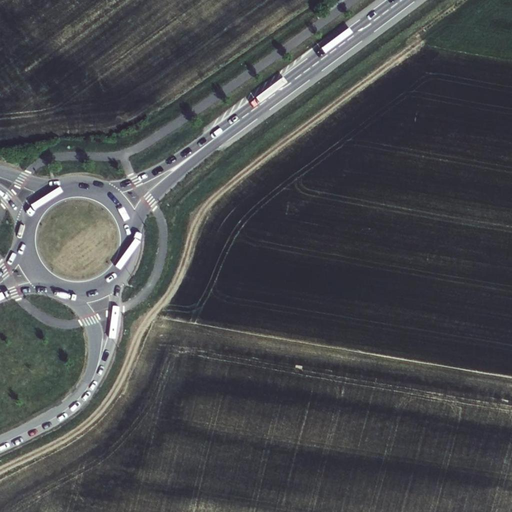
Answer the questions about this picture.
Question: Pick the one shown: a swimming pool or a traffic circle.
traffic circle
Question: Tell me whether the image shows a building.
No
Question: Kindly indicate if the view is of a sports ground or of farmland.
farmland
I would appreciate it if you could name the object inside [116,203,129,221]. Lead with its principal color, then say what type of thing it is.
white vehicle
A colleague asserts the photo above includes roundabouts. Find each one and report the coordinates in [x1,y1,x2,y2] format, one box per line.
[14,176,142,304]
